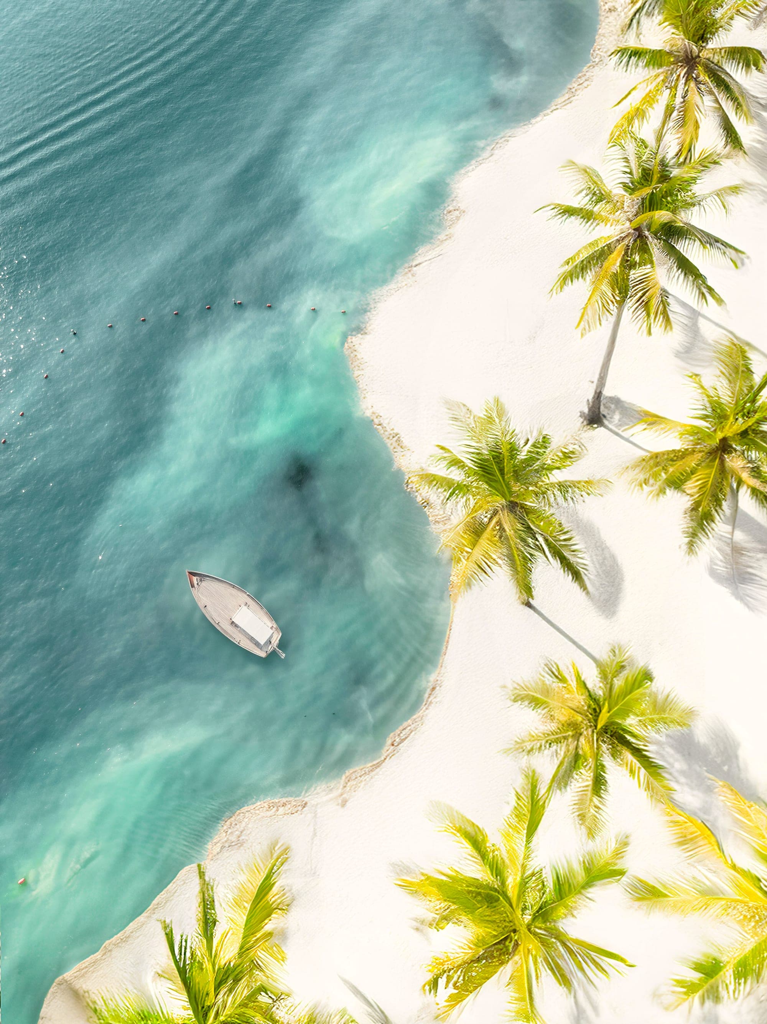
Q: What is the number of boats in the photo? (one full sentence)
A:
In total, there is 1 boat in the scene.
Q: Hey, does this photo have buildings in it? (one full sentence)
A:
No, there appears to be no building in this shot.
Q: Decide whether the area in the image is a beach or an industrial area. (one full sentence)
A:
It's a beach.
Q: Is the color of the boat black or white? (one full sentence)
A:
From above, the boat appears white.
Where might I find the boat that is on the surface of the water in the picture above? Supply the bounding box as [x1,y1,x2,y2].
[186,571,290,661]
